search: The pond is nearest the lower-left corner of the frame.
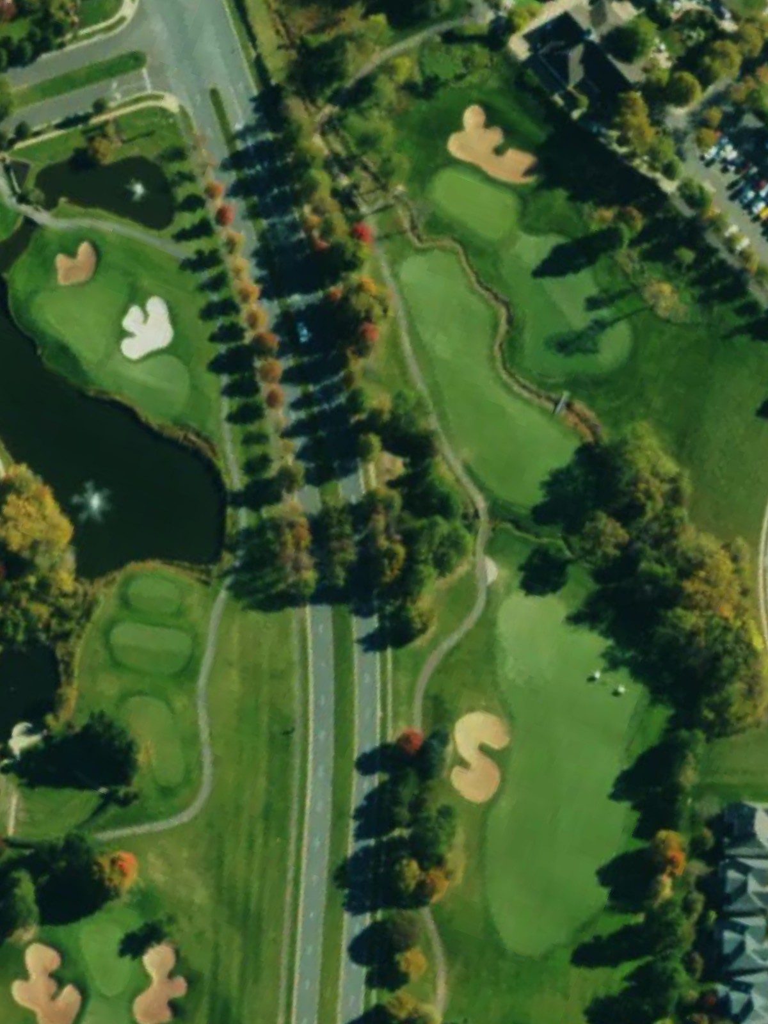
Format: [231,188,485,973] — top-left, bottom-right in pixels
[0,643,59,743]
